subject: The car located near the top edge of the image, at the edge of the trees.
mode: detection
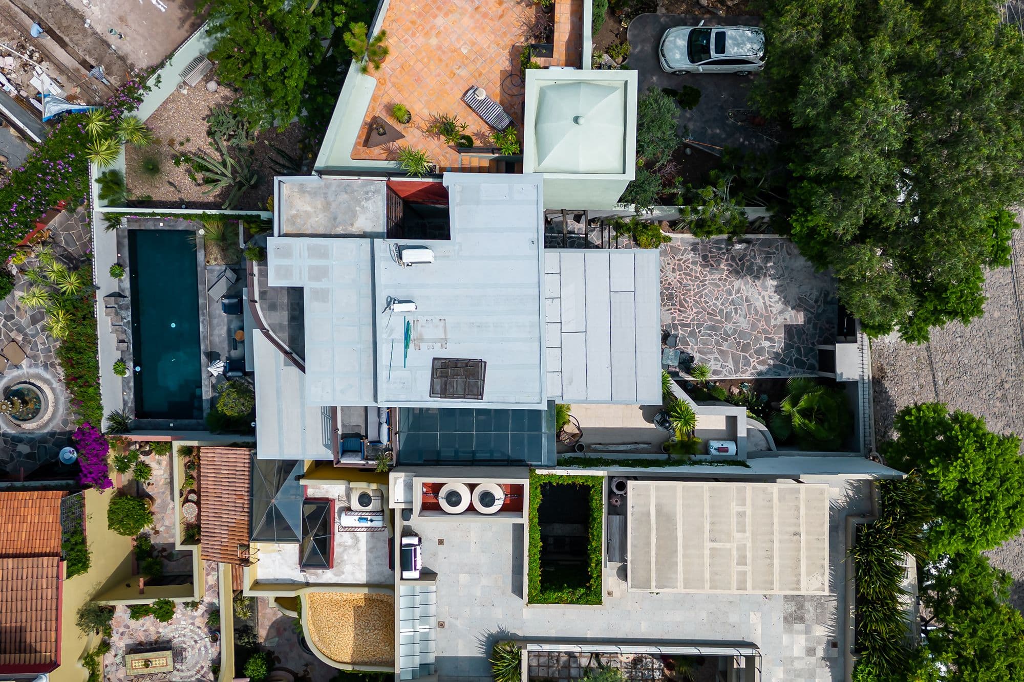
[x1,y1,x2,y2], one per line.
[660,19,770,78]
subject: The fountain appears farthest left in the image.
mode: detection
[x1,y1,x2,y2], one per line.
[0,359,66,447]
